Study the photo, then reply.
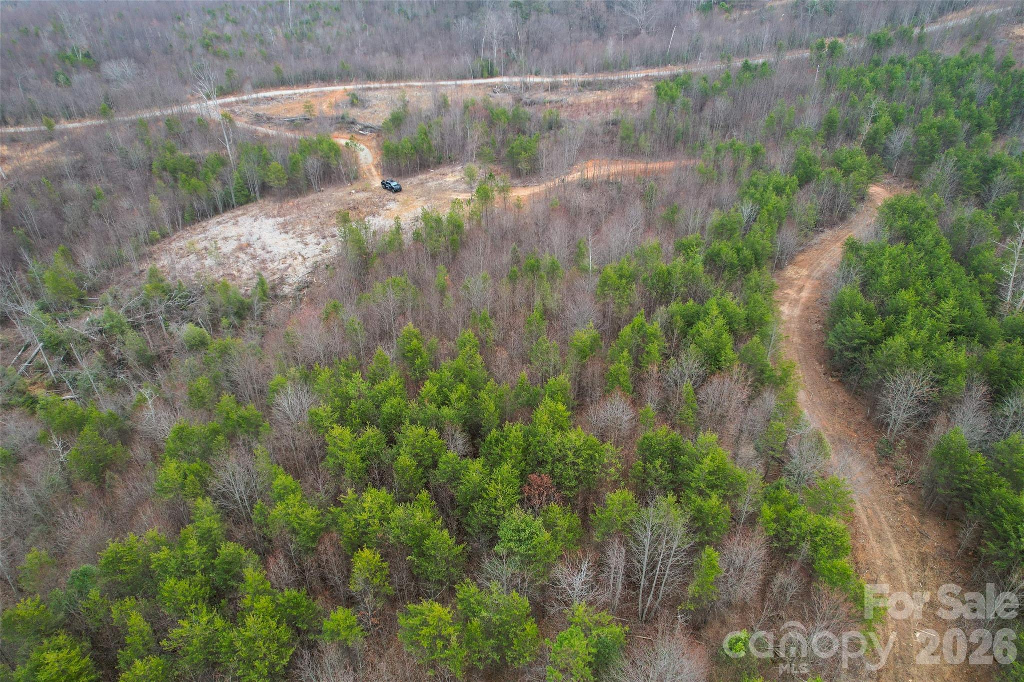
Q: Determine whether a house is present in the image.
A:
No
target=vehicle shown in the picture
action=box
[382,180,402,193]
